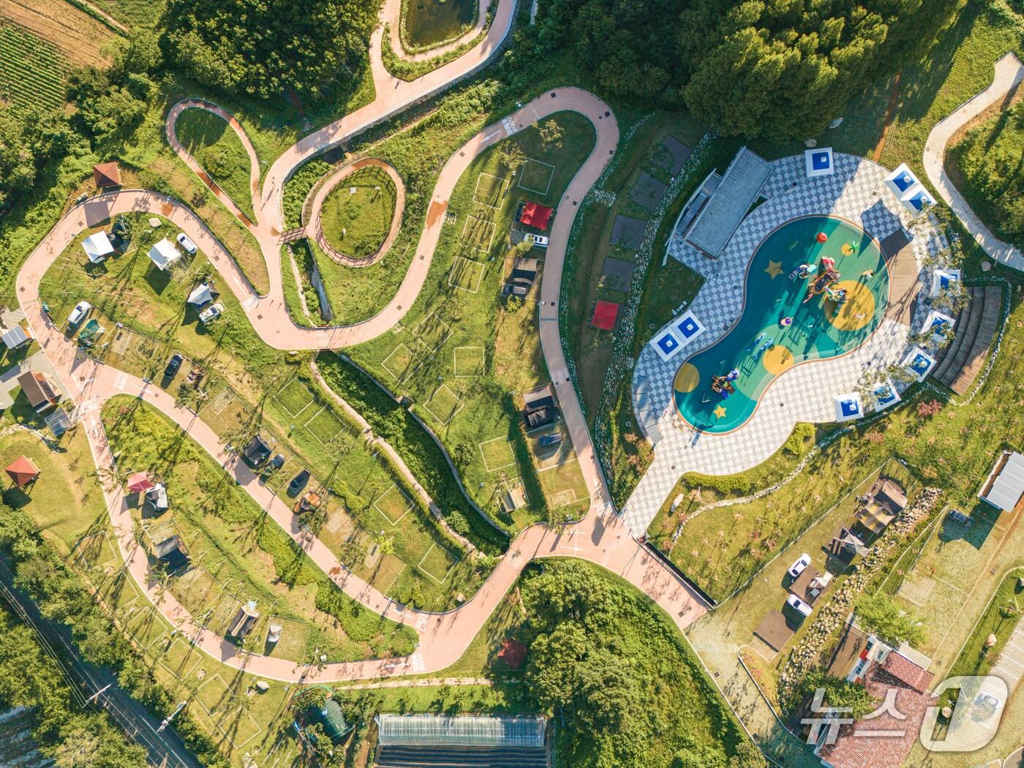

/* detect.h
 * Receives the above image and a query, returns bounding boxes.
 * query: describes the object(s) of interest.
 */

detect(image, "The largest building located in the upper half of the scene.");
[682,150,774,258]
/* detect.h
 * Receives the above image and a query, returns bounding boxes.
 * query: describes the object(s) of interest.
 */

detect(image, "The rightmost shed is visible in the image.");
[973,449,1024,513]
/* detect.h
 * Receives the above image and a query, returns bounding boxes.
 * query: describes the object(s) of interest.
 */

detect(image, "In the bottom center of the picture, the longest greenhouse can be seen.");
[376,713,546,745]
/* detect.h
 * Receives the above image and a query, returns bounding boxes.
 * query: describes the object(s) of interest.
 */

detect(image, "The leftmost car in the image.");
[67,301,92,327]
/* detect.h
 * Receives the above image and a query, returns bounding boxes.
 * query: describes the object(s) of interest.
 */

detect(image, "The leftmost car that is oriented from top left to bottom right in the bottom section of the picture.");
[786,593,813,618]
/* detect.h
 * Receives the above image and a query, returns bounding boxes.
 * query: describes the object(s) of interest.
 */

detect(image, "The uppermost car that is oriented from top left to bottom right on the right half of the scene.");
[944,507,970,529]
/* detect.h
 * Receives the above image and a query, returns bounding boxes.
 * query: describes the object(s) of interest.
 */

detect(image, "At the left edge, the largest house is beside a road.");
[18,370,68,414]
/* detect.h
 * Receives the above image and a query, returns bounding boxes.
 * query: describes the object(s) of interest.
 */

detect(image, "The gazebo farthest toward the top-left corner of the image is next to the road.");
[96,163,129,192]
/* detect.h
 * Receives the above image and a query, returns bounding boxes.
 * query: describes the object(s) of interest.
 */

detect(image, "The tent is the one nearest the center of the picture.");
[523,386,560,427]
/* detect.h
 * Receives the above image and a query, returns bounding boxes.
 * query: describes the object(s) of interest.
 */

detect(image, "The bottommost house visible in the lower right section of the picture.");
[815,633,939,768]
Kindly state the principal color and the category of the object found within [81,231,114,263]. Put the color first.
white tent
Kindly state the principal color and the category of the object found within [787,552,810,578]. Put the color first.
white car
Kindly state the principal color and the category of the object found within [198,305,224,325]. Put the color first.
white car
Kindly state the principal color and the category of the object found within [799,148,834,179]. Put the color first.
blue umbrella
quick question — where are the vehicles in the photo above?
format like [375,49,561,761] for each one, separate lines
[287,468,311,495]
[944,507,970,529]
[786,593,813,618]
[537,432,563,447]
[524,233,548,246]
[198,305,224,325]
[787,552,810,578]
[67,301,92,327]
[178,232,199,256]
[163,353,185,379]
[265,450,287,473]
